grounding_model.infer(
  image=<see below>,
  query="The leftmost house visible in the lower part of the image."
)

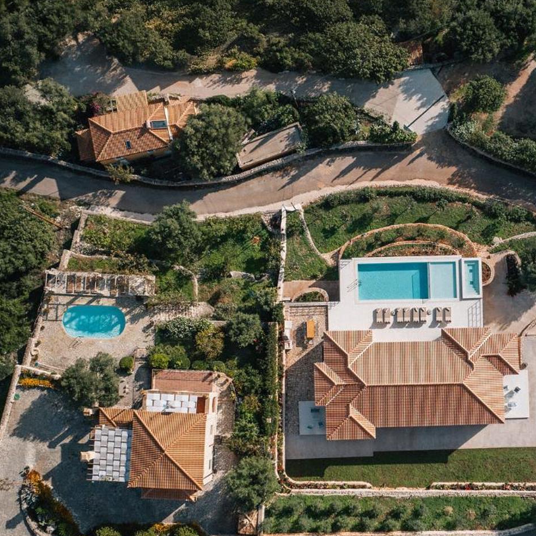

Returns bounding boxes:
[78,368,238,502]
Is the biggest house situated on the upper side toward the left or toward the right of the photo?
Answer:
left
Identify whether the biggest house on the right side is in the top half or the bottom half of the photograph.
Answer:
bottom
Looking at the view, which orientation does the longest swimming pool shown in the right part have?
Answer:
horizontally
